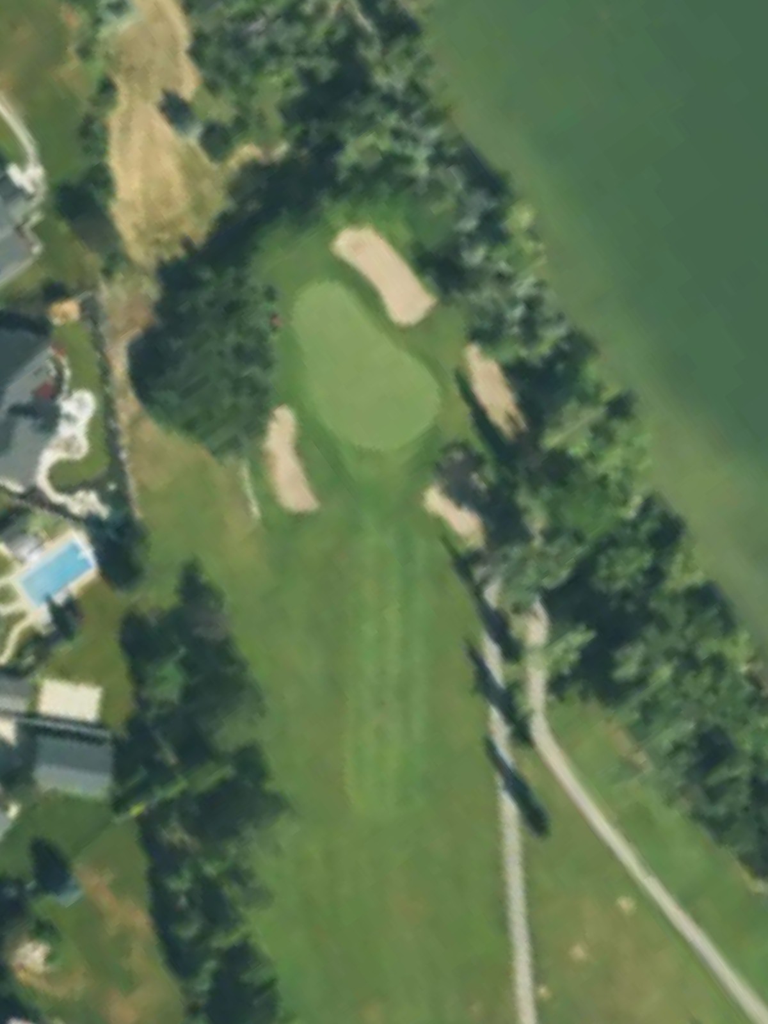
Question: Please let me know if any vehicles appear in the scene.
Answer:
No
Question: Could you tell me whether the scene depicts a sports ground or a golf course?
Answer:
golf course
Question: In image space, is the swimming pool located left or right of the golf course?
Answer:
left of it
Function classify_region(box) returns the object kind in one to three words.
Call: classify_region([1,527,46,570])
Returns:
building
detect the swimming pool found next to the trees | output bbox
[9,533,103,628]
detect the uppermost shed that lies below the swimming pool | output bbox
[0,674,31,716]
